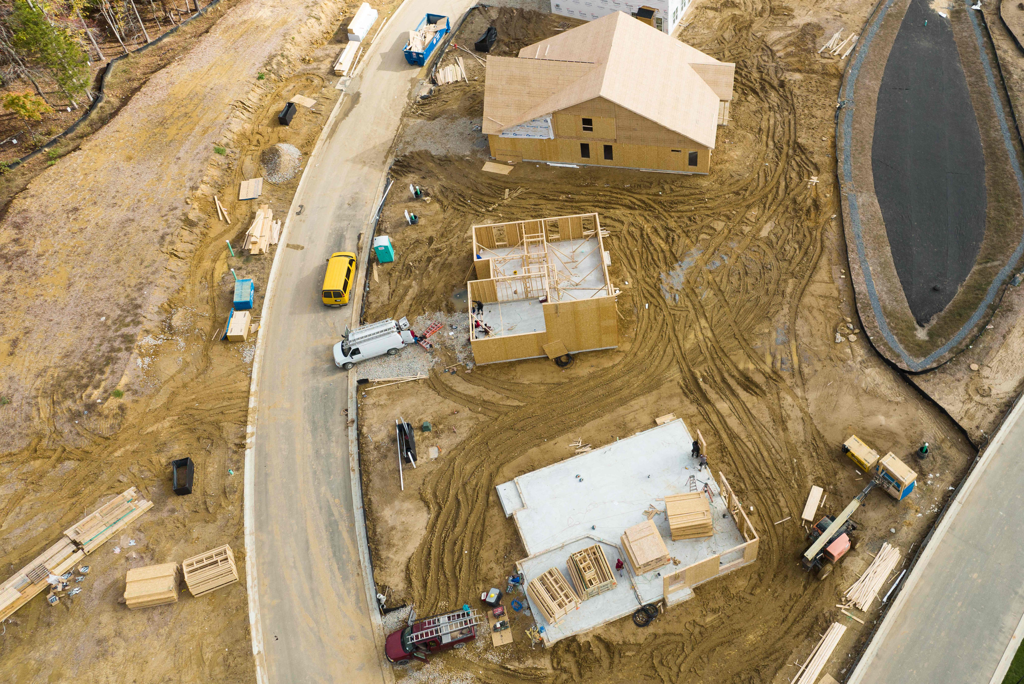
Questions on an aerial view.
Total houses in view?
2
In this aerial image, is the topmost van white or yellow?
yellow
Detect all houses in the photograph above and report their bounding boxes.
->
[467,211,623,365]
[481,8,737,175]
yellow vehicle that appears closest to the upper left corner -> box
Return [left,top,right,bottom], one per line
[321,251,356,307]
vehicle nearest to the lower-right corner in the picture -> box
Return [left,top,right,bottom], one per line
[792,482,888,585]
